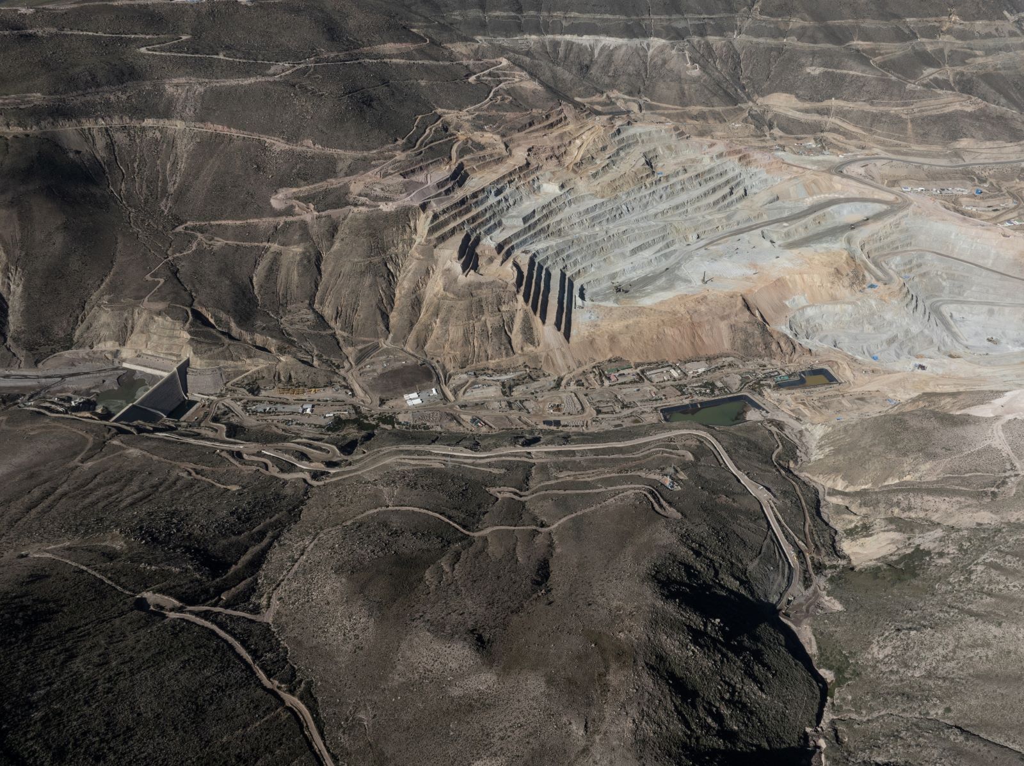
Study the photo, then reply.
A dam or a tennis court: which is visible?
dam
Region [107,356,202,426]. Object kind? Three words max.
dam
